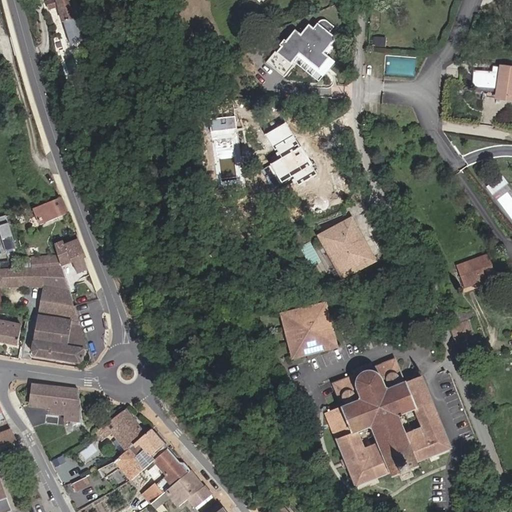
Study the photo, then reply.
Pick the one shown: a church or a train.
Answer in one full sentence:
Looking from above, you can make out a church.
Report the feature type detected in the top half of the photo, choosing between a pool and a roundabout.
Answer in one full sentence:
What appears in the top half of the photo is a pool.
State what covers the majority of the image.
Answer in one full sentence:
The bulk of the photo consists of trees.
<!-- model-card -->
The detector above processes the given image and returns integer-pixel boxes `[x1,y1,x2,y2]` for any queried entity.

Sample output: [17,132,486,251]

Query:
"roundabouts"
[84,340,154,404]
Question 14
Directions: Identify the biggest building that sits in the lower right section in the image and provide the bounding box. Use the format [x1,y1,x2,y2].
[325,358,448,487]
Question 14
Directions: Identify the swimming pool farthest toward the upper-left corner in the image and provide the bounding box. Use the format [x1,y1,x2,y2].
[218,158,237,180]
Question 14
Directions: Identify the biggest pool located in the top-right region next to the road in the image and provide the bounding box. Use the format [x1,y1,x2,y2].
[384,55,417,78]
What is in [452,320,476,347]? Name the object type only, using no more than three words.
shed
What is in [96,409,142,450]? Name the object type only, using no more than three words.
house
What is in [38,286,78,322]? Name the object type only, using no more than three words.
house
